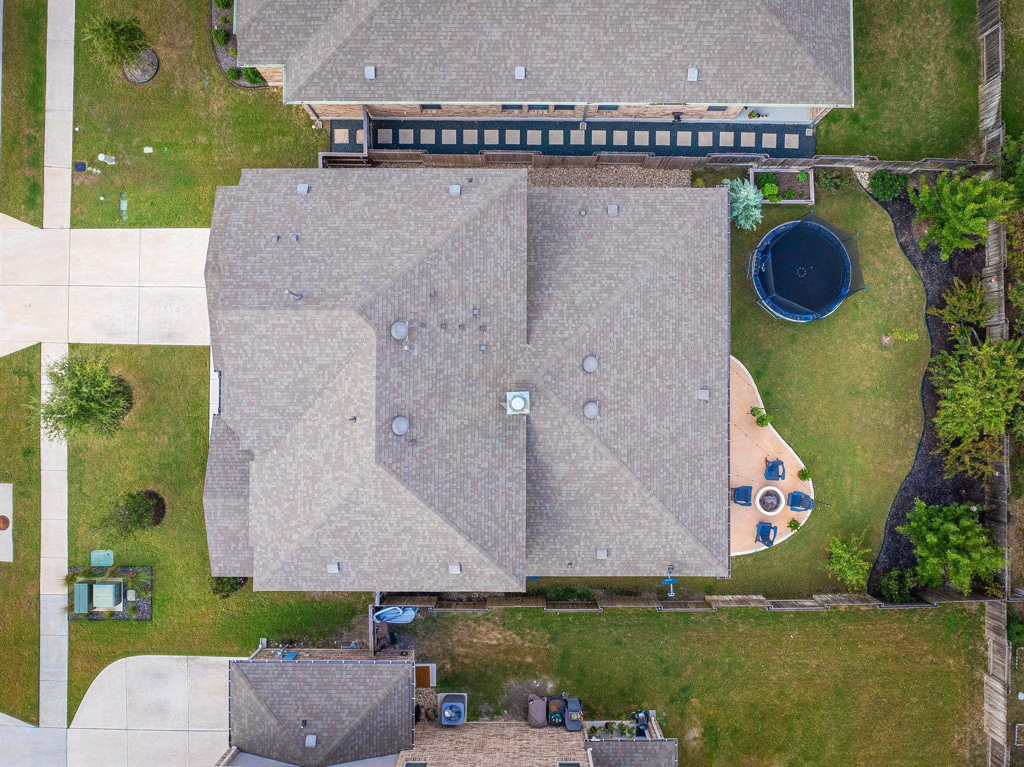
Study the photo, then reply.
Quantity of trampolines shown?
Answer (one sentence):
The picture shows 1 trampoline.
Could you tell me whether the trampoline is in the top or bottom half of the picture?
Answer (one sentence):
The trampoline sits in the top half of the picture.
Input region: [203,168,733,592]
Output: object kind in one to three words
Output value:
house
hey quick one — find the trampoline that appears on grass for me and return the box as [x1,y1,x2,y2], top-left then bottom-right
[744,210,866,325]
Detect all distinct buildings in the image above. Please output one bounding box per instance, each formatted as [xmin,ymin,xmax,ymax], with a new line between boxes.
[234,0,854,127]
[213,642,678,767]
[203,168,733,592]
